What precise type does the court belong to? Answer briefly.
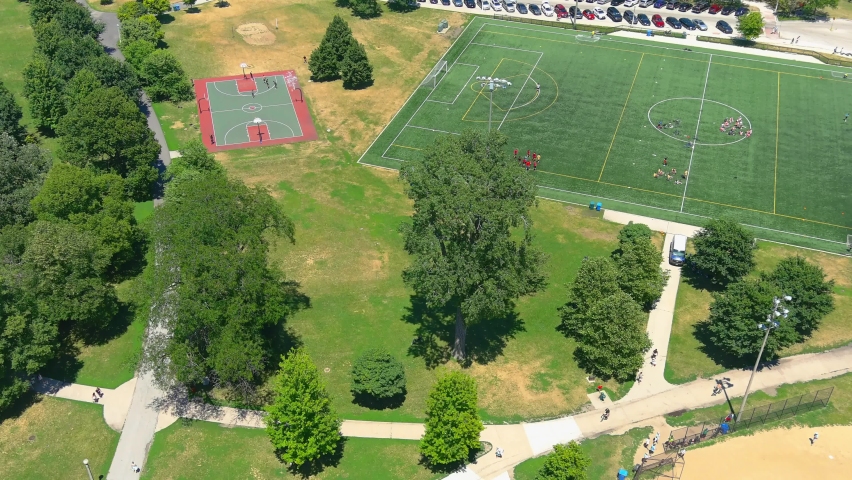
basketball court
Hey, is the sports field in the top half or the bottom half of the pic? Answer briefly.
top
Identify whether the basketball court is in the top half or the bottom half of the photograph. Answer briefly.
top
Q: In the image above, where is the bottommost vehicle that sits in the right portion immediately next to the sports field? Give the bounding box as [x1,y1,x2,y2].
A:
[672,230,690,264]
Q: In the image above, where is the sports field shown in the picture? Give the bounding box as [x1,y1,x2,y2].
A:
[366,17,852,244]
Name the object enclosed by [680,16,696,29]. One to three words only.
vehicle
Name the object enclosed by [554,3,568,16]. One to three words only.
vehicle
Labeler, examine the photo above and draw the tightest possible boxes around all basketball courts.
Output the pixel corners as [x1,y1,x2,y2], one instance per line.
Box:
[193,70,319,151]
